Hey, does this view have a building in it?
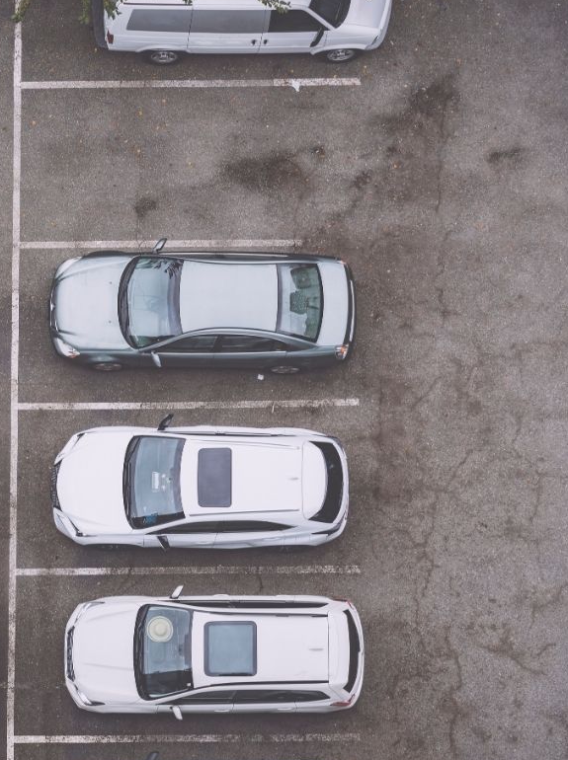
No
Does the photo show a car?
Yes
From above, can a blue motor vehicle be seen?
No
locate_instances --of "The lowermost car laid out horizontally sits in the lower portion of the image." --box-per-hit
[64,582,366,721]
